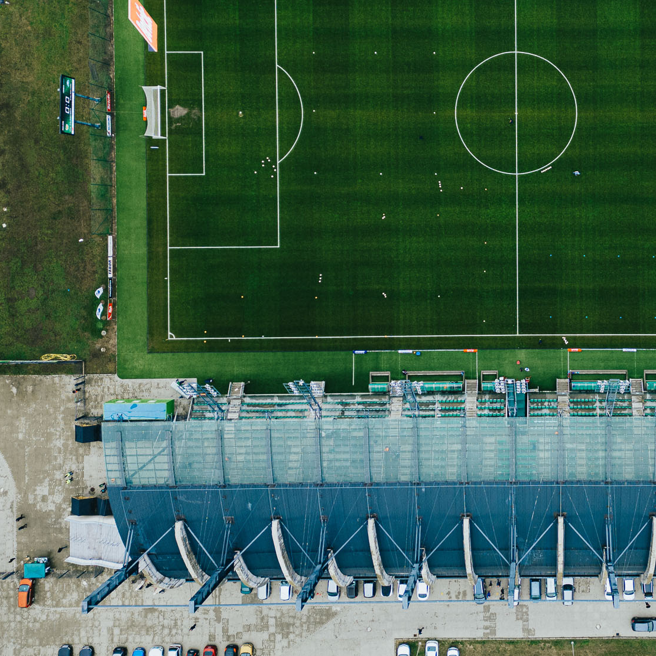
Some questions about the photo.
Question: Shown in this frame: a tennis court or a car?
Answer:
car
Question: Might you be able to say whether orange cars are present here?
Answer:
Yes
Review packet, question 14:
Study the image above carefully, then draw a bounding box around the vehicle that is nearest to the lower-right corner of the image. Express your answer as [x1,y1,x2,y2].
[632,616,656,633]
